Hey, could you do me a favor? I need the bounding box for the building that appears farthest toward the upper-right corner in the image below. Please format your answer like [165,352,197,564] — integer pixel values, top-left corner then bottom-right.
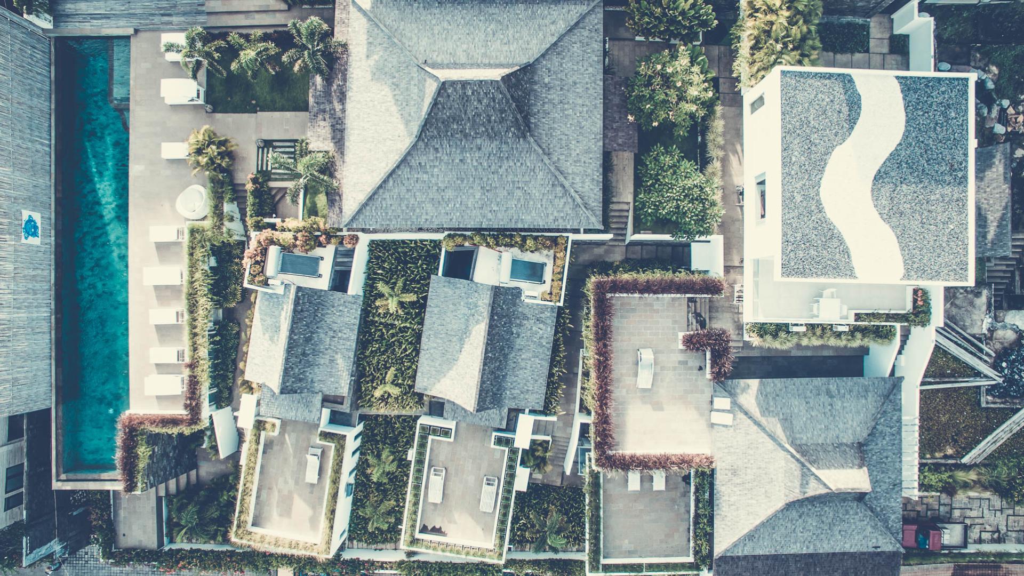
[742,68,978,326]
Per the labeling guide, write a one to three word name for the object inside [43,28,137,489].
swimming pool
